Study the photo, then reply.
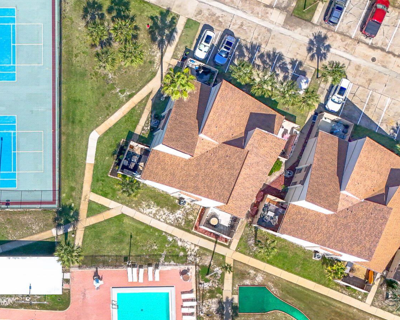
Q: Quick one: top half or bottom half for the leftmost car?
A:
top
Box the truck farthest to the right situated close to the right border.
[360,0,389,39]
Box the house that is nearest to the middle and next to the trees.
[115,57,302,239]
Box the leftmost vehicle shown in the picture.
[193,27,216,62]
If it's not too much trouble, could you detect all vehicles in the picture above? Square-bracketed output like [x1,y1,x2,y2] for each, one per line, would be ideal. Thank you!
[325,81,350,112]
[322,0,346,28]
[213,33,236,67]
[360,0,389,39]
[193,27,216,62]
